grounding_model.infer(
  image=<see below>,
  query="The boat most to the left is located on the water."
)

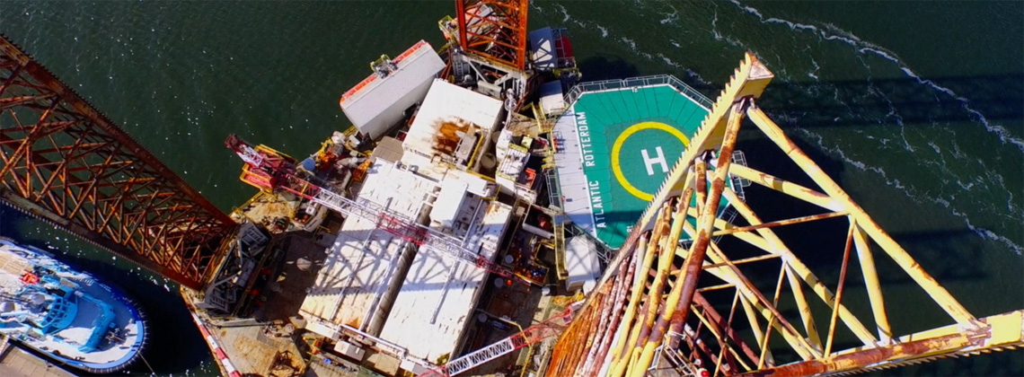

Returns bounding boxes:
[0,228,151,367]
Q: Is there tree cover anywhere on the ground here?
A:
No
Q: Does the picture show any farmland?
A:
No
